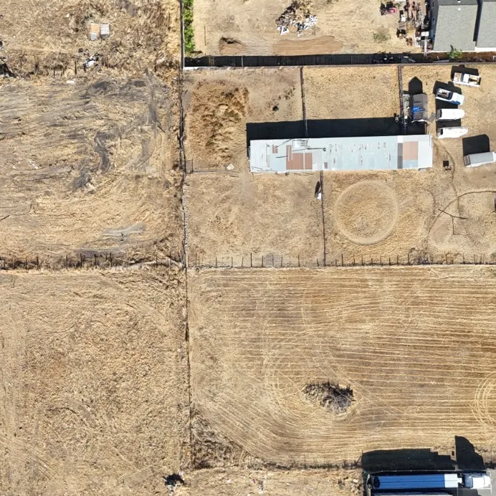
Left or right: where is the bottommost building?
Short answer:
right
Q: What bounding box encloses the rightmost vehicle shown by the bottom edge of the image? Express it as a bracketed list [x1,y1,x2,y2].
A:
[458,471,486,488]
